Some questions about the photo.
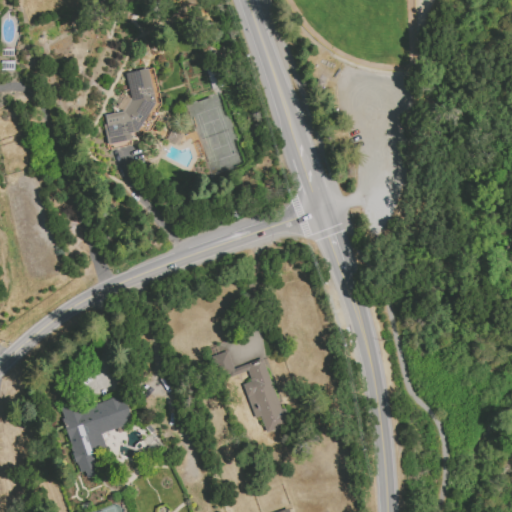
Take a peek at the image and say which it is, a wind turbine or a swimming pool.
swimming pool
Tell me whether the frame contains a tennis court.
Yes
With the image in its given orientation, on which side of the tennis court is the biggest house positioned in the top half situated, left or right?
to the left of it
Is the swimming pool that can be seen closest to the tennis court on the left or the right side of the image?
left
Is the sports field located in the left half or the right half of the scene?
right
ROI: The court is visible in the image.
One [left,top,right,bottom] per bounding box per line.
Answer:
[187,94,242,174]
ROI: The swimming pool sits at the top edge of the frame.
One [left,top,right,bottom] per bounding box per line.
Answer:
[2,13,18,48]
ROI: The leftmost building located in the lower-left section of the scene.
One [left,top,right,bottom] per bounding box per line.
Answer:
[61,400,128,478]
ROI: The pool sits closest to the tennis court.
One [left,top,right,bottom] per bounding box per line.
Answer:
[146,140,197,170]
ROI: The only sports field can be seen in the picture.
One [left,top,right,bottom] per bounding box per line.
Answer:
[288,0,416,71]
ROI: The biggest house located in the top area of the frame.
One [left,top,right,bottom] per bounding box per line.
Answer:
[104,68,162,140]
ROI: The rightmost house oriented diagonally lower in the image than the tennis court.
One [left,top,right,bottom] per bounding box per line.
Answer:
[210,347,282,428]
